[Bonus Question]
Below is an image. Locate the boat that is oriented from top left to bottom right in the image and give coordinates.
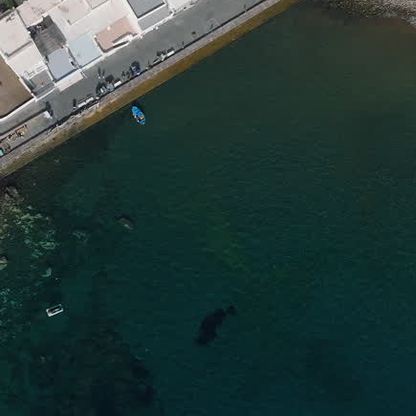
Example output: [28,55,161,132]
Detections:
[133,106,146,126]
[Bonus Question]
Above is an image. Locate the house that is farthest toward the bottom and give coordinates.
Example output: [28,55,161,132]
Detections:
[25,67,54,99]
